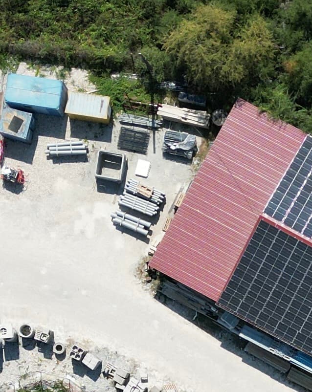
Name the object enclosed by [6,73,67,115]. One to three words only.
shipping container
